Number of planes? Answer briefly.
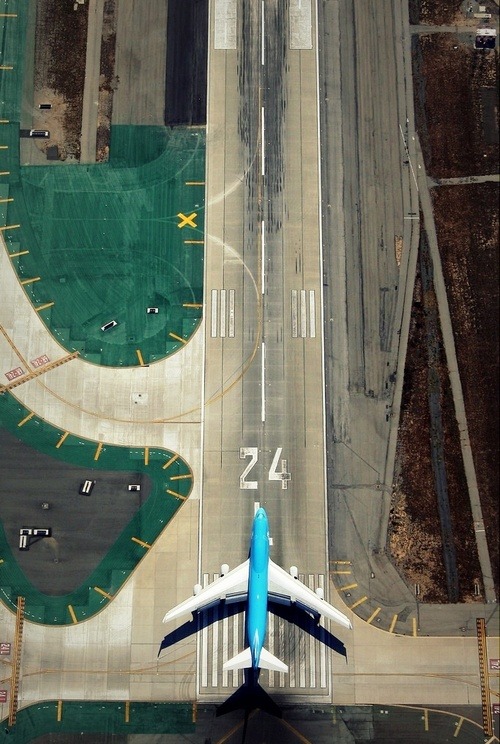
1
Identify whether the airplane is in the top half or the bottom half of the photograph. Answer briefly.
bottom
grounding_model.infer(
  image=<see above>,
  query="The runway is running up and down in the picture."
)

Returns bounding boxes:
[180,0,334,704]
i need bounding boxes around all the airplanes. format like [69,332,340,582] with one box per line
[161,508,350,672]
